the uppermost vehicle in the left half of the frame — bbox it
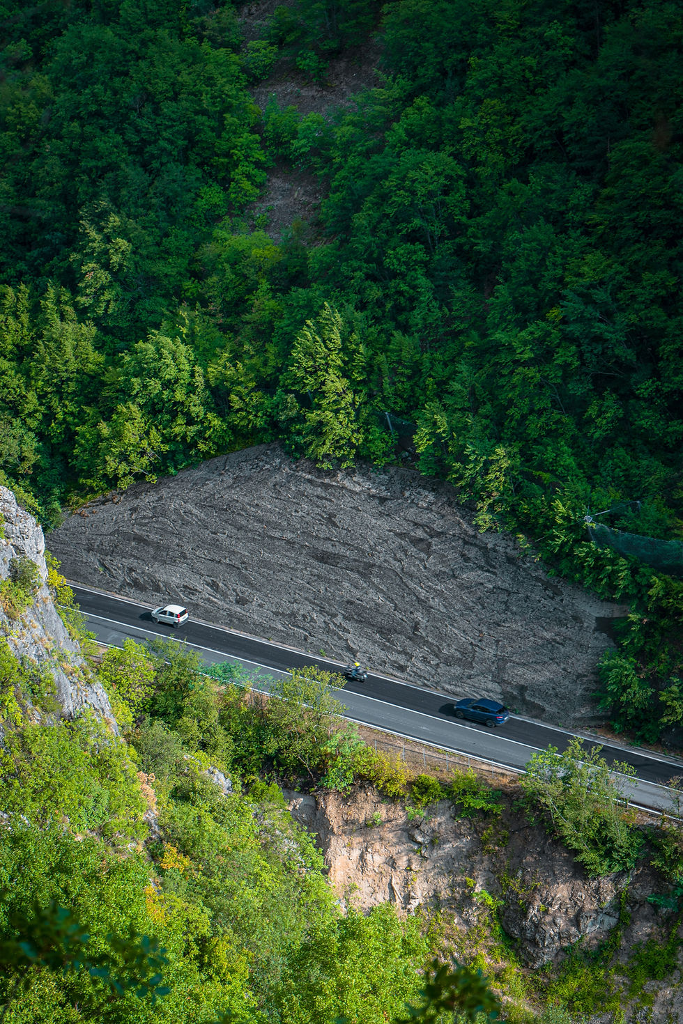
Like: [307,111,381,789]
[152,606,189,629]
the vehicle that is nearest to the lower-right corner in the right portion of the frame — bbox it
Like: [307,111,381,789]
[452,697,508,728]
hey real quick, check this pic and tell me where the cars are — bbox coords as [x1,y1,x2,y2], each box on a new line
[452,697,508,728]
[152,606,189,629]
